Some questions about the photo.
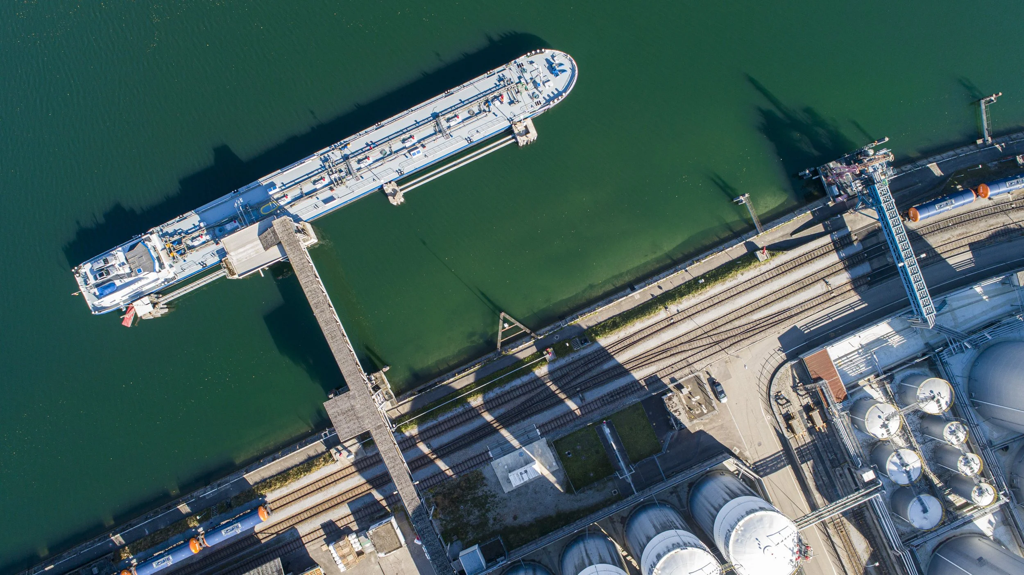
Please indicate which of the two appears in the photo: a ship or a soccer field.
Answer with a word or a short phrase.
ship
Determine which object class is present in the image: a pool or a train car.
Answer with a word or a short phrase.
train car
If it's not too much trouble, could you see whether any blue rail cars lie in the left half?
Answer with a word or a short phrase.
Yes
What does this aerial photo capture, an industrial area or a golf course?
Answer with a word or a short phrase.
industrial area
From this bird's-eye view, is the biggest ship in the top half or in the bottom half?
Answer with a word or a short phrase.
top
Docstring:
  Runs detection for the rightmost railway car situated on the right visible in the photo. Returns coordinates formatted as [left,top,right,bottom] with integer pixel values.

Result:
[974,174,1024,199]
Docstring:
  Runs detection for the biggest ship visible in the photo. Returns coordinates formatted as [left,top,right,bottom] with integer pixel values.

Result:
[71,46,578,315]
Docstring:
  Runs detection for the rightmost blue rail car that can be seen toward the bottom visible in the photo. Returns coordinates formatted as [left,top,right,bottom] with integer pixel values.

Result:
[203,501,276,546]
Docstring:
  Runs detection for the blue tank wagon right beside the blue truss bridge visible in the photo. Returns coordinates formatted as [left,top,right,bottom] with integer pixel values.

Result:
[901,188,980,223]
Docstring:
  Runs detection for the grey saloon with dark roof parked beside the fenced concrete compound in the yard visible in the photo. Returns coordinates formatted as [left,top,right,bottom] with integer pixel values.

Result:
[712,379,728,404]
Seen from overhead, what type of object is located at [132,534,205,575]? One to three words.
rail car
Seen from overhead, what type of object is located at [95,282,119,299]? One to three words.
boat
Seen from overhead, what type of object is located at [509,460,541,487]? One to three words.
shed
